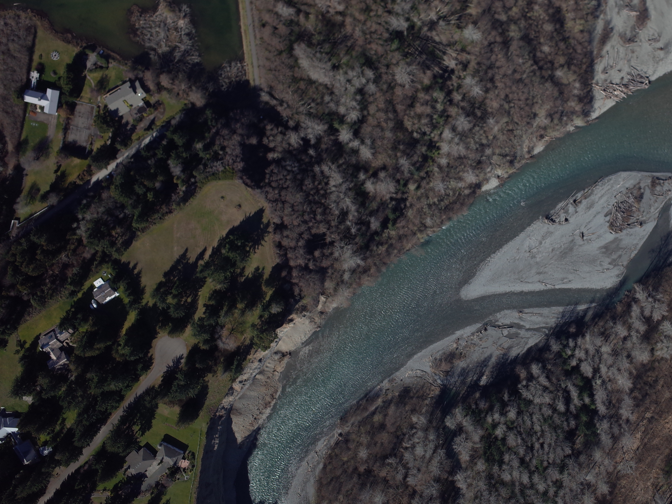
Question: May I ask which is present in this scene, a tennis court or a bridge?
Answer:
tennis court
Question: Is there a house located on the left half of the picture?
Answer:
Yes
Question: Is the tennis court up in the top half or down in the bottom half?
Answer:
top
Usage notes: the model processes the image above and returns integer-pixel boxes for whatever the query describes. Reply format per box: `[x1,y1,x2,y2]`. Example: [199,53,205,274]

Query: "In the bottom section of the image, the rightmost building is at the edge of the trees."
[124,440,187,478]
